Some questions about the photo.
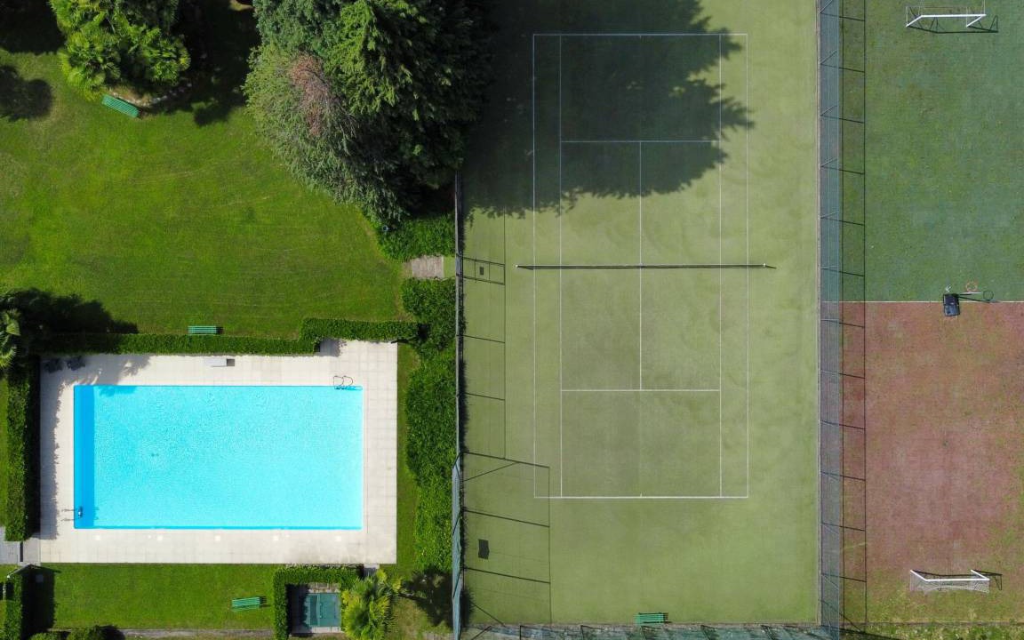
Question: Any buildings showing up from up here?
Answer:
No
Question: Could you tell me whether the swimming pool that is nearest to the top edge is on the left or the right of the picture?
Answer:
left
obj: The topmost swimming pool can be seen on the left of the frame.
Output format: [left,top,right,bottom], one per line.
[57,372,369,541]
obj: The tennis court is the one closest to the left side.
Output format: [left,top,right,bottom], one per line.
[443,0,816,623]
